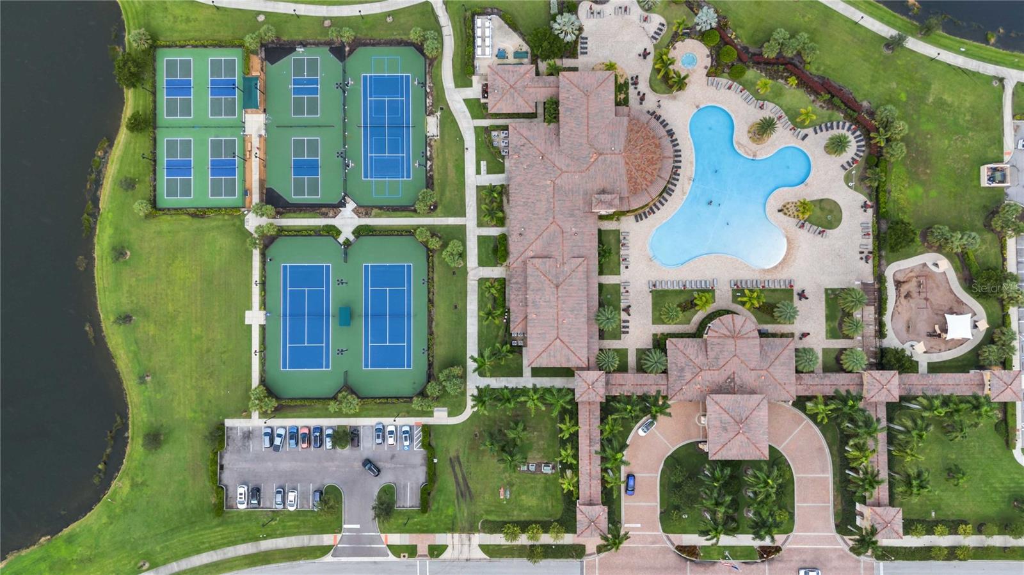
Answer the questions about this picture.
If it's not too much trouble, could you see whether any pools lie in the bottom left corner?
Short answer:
No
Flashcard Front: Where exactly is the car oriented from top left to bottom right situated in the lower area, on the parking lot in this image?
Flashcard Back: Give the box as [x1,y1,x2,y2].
[362,458,381,479]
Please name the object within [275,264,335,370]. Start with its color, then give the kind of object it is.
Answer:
blue tennis court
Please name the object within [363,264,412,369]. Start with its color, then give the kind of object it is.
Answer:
blue tennis court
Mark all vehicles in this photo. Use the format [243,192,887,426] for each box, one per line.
[288,426,299,448]
[301,427,311,448]
[626,474,636,495]
[313,490,323,510]
[312,426,322,448]
[287,489,298,511]
[374,423,384,445]
[638,417,656,437]
[237,486,248,508]
[274,487,285,508]
[350,428,360,449]
[249,486,260,507]
[799,569,822,575]
[1014,138,1024,149]
[274,427,287,452]
[401,425,411,447]
[324,428,335,450]
[263,427,273,449]
[362,458,381,479]
[386,425,396,446]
